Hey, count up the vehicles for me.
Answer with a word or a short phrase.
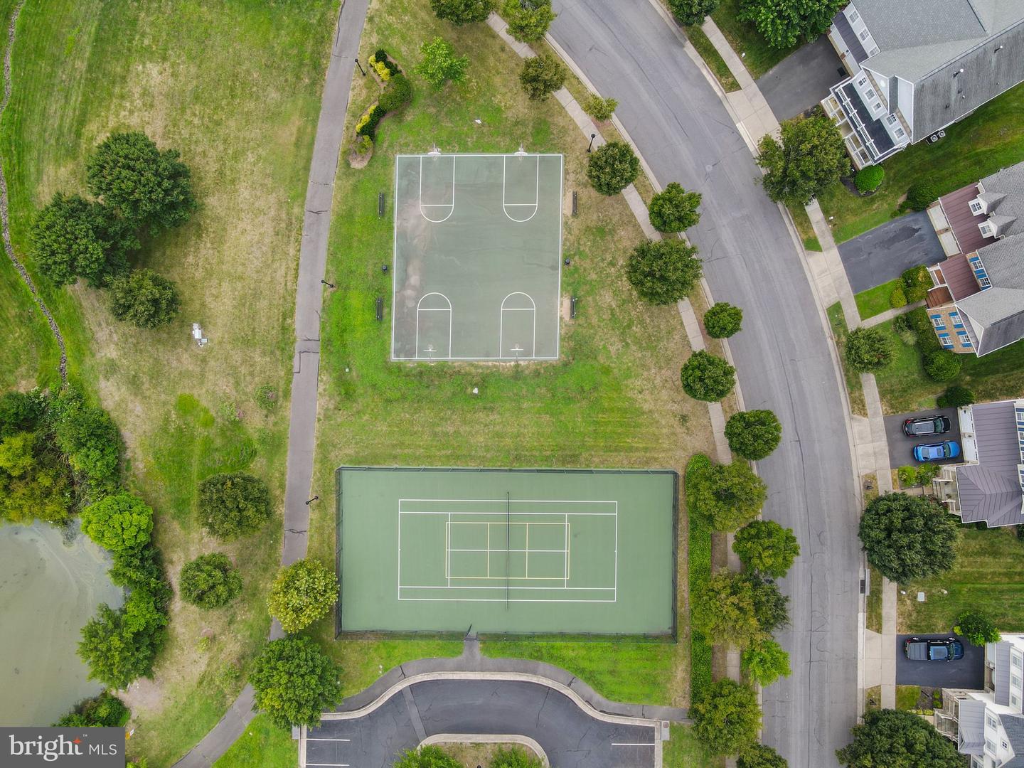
3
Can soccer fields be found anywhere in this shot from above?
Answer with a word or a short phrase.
No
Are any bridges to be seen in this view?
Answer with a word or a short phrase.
No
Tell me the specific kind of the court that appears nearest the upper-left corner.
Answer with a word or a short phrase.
basketball court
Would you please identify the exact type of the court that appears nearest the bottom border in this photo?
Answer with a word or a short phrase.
tennis court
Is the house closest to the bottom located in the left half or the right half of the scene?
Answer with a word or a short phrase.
right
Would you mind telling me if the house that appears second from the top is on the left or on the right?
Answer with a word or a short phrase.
right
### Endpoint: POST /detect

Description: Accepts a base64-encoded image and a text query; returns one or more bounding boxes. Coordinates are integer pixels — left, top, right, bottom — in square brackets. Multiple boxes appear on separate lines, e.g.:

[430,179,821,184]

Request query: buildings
[817,0,1024,171]
[934,634,1024,768]
[932,396,1024,529]
[922,161,1024,359]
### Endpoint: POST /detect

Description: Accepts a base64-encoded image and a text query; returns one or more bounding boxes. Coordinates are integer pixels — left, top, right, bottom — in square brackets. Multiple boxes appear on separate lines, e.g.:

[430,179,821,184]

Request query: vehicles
[900,415,949,438]
[911,442,957,464]
[902,638,960,663]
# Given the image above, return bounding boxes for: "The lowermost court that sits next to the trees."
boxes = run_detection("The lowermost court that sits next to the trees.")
[340,466,675,634]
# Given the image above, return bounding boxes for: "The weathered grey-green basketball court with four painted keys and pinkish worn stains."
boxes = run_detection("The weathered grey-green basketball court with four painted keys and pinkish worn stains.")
[390,153,564,362]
